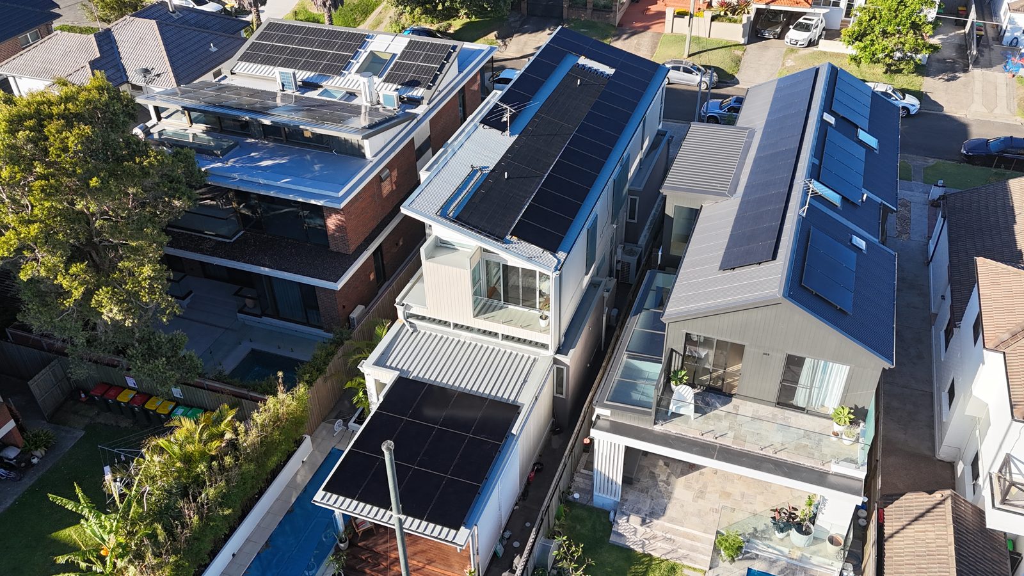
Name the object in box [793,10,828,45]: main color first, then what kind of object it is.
white car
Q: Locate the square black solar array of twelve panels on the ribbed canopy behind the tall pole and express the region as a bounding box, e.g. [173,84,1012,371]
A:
[328,371,520,524]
